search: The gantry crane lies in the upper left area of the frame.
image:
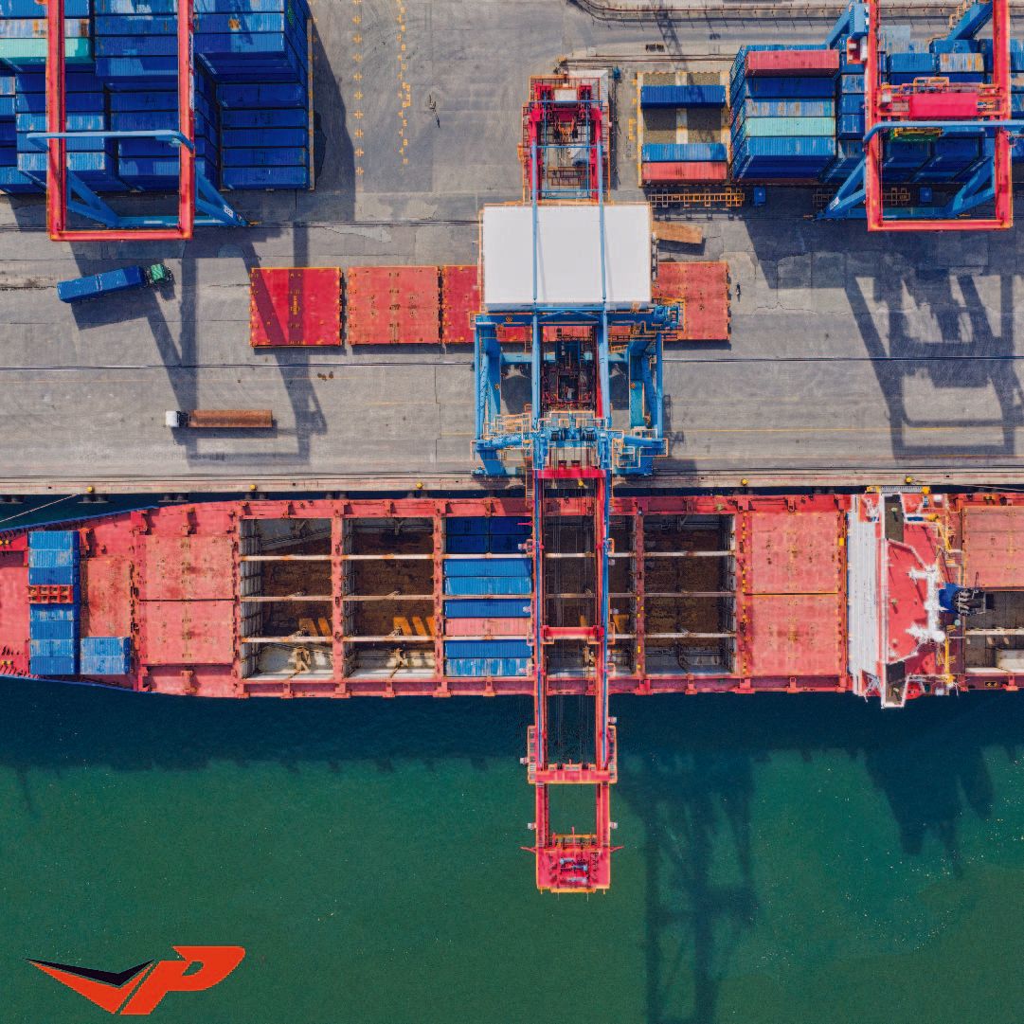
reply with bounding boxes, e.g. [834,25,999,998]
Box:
[36,0,256,242]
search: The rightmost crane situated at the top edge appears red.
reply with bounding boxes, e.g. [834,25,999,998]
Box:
[806,0,1016,232]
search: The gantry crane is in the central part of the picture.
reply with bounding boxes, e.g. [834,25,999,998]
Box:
[466,69,686,901]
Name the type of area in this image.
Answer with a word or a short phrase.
port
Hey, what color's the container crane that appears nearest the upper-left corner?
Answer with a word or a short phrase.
red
